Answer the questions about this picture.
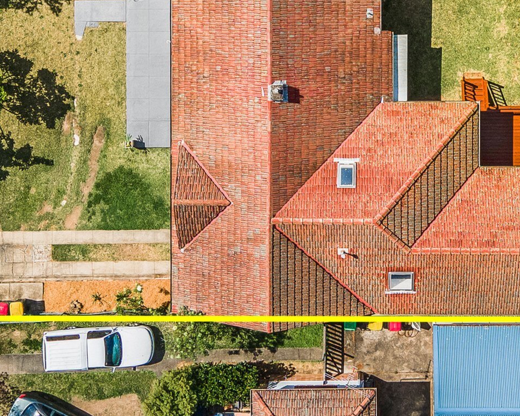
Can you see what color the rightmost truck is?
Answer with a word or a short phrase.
white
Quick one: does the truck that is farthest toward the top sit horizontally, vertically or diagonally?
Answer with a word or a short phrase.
horizontally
